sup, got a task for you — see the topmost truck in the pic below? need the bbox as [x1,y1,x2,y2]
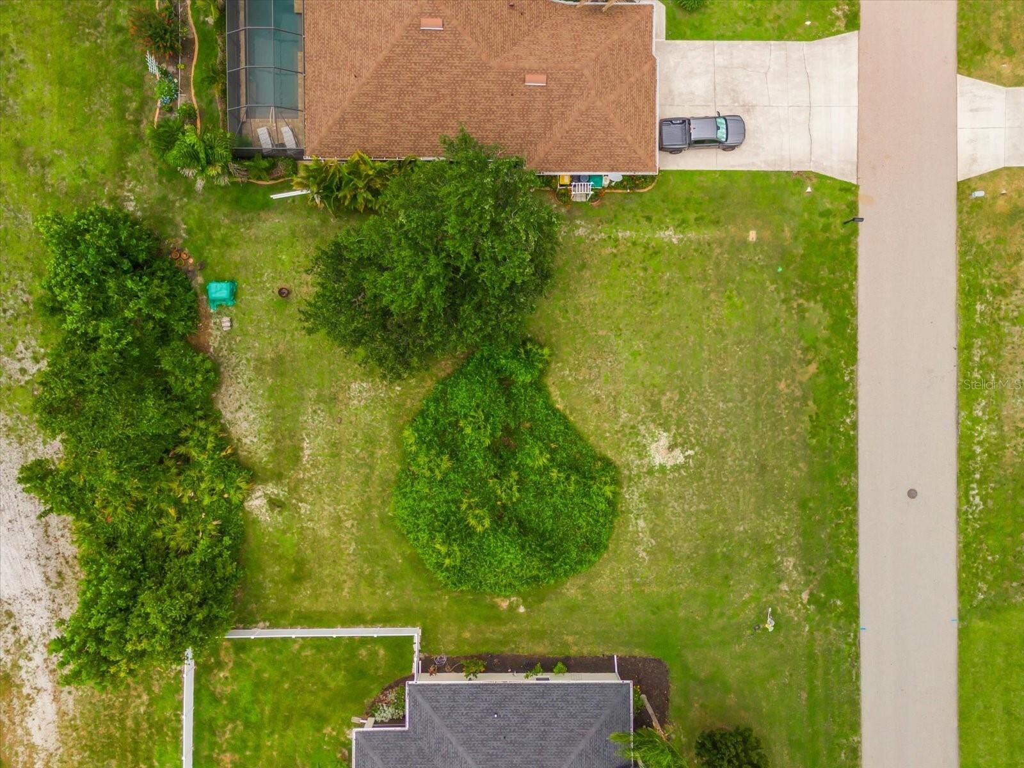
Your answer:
[660,113,745,154]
